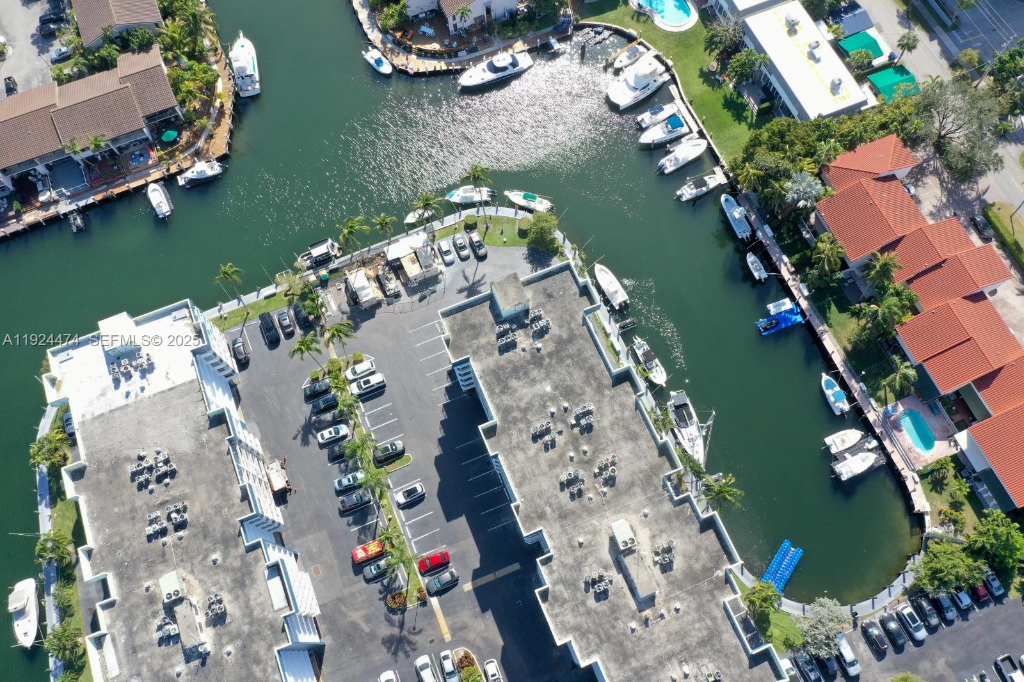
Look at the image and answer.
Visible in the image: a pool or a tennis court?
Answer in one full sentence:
Of the two, only a pool appears.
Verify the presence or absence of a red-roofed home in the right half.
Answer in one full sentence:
Yes, the scene does show a red-roofed home in the right half.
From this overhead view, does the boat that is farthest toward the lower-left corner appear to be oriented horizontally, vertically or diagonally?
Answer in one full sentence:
I'd say the boat that is farthest toward the lower-left corner is aligned vertically in the picture.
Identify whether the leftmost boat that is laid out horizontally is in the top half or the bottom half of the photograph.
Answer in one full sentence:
The top half of the photo is where the leftmost boat that is laid out horizontally is.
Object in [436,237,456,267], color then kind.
white car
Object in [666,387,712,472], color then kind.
white boat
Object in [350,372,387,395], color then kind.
white car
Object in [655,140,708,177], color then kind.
white boat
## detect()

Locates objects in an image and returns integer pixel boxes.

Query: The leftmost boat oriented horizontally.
[182,159,227,179]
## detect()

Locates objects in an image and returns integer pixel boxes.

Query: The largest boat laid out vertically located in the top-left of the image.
[232,28,263,106]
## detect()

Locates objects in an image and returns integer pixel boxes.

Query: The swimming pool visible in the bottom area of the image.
[899,407,939,454]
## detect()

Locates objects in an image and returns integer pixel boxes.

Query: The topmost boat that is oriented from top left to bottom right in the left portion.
[364,46,391,75]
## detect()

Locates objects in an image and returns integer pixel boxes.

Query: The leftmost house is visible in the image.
[0,80,74,177]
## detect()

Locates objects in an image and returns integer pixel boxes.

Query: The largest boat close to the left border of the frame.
[3,570,44,648]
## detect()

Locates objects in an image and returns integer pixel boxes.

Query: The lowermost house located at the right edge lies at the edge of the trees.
[952,400,1024,510]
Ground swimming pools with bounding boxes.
[632,0,692,27]
[899,407,939,454]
